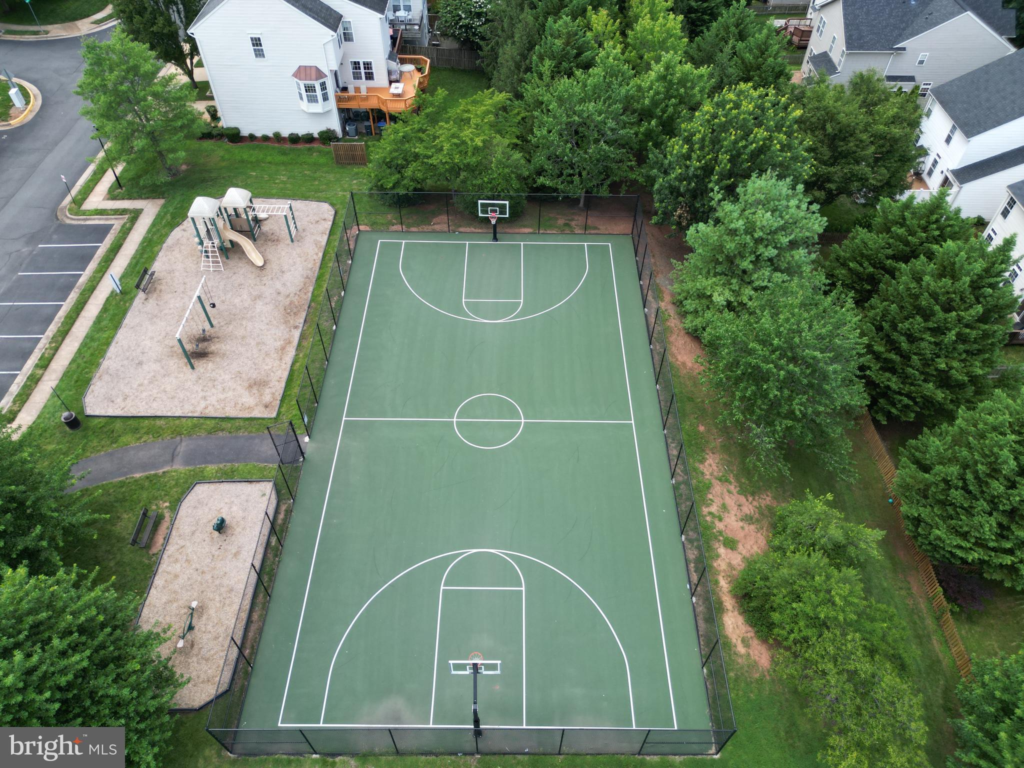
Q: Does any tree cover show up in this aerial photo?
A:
Yes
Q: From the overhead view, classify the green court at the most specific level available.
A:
basketball court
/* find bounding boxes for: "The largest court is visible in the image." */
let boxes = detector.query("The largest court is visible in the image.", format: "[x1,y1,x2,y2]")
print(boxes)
[236,232,719,756]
